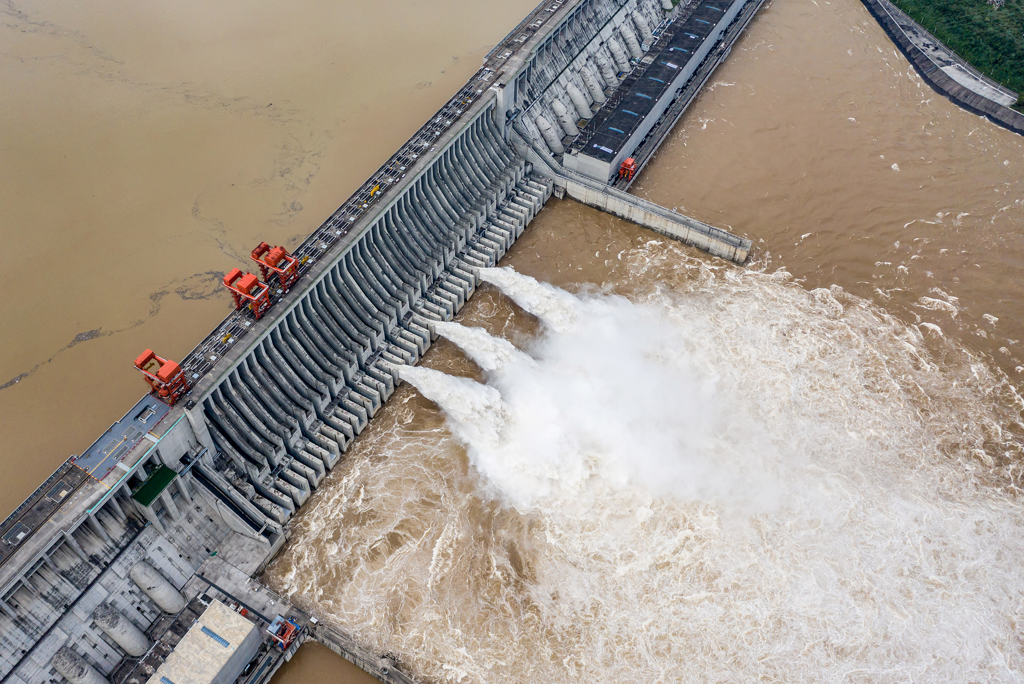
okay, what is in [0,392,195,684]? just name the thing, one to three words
dam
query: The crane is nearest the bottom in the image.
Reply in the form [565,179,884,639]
[265,616,306,654]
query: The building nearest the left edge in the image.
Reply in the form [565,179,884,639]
[125,593,263,684]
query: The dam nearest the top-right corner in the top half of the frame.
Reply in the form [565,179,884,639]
[462,0,688,153]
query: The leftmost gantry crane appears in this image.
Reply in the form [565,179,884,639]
[130,349,189,407]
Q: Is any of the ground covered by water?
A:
Yes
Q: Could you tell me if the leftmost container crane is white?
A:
No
